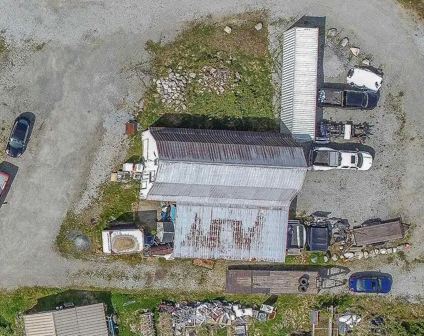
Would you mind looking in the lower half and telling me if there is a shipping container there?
No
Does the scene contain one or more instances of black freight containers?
No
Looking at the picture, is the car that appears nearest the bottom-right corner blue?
Yes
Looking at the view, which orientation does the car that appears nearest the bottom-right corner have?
horizontally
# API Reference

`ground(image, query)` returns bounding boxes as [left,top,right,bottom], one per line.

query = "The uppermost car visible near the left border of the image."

[5,115,32,159]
